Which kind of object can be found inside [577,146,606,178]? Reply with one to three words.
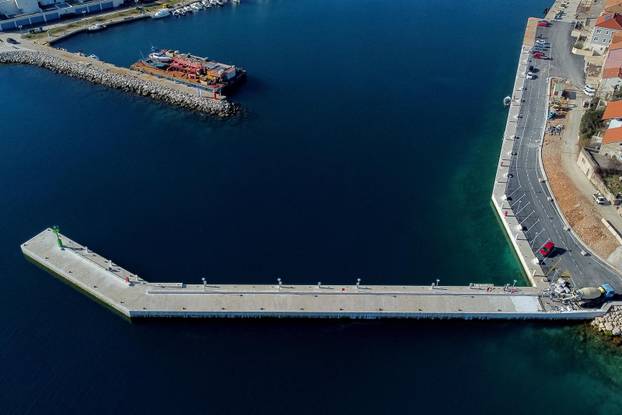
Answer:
shed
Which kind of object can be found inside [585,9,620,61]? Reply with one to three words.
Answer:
house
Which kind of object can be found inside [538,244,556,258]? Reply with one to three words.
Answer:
vehicle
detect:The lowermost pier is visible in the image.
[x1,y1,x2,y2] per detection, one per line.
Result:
[21,228,622,321]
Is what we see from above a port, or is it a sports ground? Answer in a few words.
port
